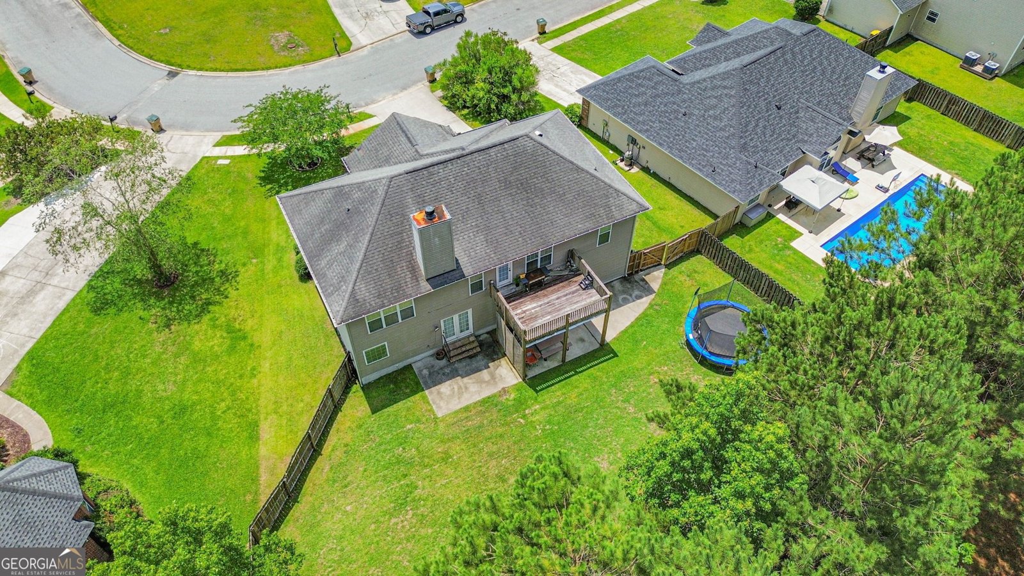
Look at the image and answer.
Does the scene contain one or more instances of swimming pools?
Yes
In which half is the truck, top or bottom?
top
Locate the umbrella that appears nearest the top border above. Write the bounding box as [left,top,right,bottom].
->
[864,123,901,151]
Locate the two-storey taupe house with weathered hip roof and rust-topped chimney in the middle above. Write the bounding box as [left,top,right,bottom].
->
[274,110,652,382]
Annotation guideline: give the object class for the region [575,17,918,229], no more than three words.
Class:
house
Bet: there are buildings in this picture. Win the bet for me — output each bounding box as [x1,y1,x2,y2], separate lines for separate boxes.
[575,17,918,229]
[0,456,107,576]
[274,110,652,382]
[821,0,1024,72]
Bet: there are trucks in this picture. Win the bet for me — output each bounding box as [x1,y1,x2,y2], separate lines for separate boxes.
[404,0,469,35]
